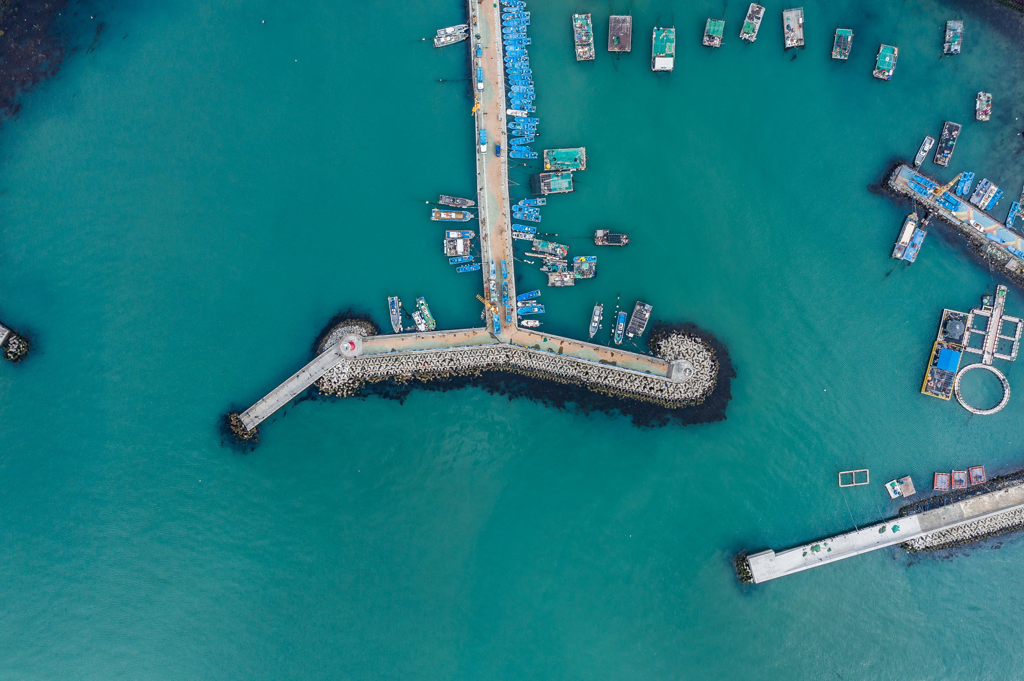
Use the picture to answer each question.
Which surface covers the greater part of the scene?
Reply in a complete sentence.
Most of the picture is covered by water.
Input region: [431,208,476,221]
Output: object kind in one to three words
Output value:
boat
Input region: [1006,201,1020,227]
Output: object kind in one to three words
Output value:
boat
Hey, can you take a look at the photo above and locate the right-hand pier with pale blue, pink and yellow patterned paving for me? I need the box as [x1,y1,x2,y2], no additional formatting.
[892,165,1024,265]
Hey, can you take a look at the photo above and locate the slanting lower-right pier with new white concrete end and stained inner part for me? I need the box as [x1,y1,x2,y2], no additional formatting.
[746,483,1024,583]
